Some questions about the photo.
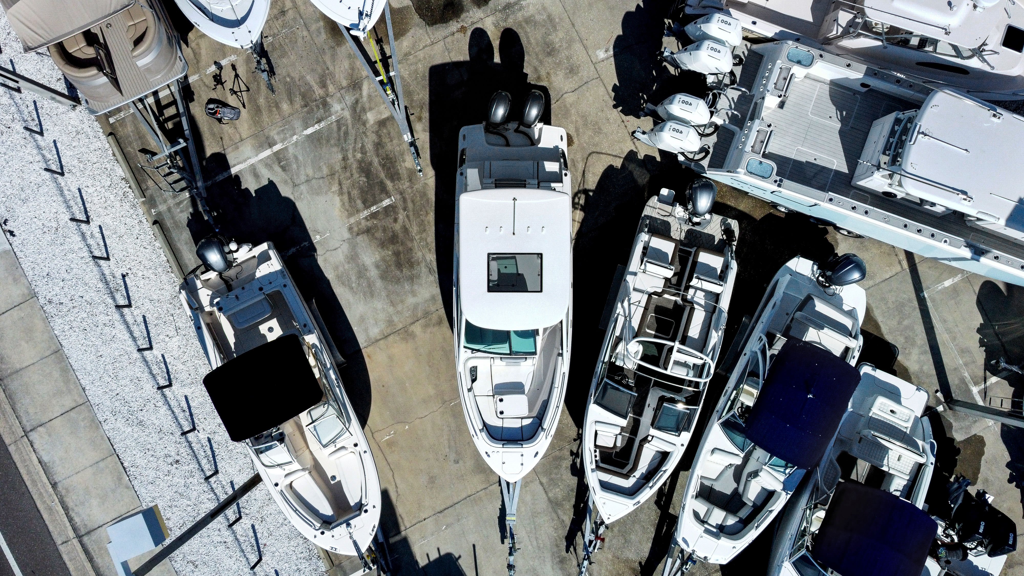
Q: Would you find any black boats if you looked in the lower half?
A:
Yes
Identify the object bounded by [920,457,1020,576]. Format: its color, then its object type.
black boat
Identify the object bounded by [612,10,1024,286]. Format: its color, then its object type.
white boat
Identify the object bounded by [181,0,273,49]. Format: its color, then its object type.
white boat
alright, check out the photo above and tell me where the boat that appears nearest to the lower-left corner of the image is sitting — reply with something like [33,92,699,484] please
[180,228,384,572]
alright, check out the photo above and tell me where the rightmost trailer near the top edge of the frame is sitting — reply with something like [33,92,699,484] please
[338,0,426,177]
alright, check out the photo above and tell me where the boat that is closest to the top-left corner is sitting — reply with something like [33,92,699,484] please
[5,0,191,118]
